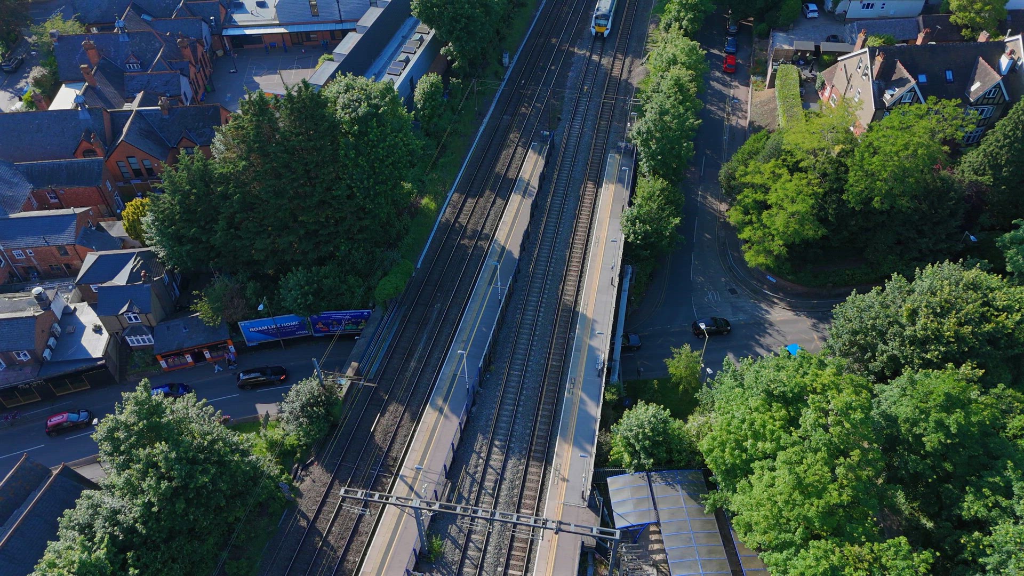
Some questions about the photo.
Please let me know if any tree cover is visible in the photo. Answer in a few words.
Yes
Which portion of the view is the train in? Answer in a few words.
top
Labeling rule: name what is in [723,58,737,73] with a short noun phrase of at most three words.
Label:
car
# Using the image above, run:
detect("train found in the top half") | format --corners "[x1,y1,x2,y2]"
[592,0,619,38]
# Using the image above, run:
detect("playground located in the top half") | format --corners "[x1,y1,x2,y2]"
[218,42,340,126]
